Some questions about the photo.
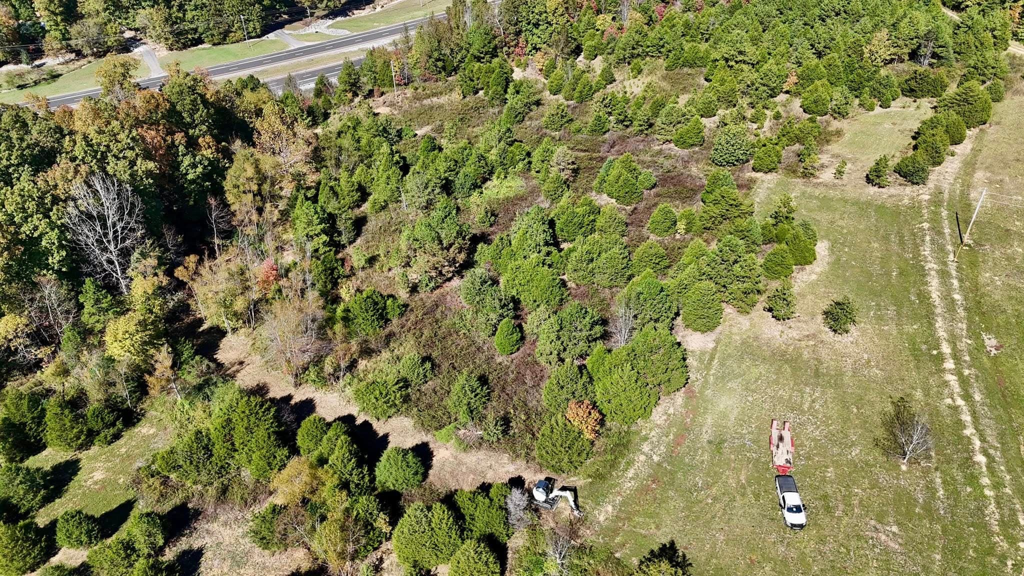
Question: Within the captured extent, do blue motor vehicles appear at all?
No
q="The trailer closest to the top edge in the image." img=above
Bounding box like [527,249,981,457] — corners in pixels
[767,418,800,476]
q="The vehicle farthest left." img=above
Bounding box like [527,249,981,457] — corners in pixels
[528,476,581,518]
